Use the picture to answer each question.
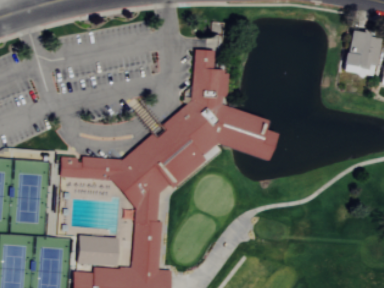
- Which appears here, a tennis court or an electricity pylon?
tennis court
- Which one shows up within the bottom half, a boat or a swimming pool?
swimming pool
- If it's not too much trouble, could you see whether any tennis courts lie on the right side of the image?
No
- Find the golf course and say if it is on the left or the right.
right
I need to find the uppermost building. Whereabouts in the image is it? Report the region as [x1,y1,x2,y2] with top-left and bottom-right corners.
[346,31,384,78]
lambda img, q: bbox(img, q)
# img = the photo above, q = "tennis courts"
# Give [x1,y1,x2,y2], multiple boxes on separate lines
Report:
[10,160,50,234]
[32,236,72,288]
[0,235,35,288]
[0,158,14,232]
